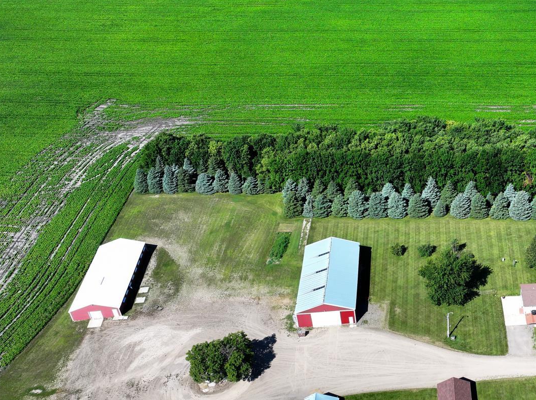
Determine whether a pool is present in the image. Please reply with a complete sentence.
No, no pool is visible in the view.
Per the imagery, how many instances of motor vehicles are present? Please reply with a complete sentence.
The count of motor vehicles is 0.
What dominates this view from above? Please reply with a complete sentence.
The largest share of the image is taken up by farmland.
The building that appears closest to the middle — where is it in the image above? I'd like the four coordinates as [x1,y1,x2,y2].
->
[295,234,361,328]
